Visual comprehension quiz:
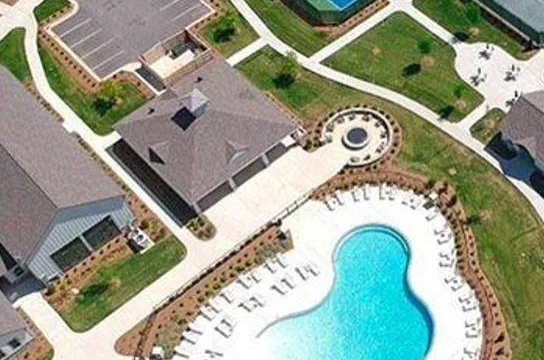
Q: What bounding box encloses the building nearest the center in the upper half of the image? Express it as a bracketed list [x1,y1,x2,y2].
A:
[112,54,307,218]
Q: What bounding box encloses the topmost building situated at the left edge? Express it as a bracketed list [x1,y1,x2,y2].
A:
[0,64,138,308]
